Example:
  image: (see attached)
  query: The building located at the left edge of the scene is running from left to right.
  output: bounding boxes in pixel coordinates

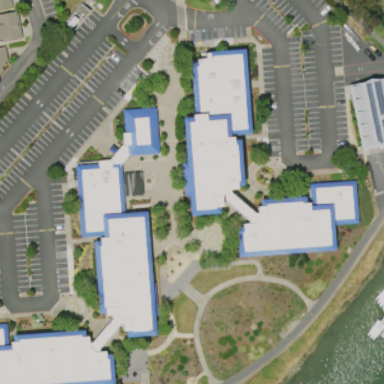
[0,330,116,384]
